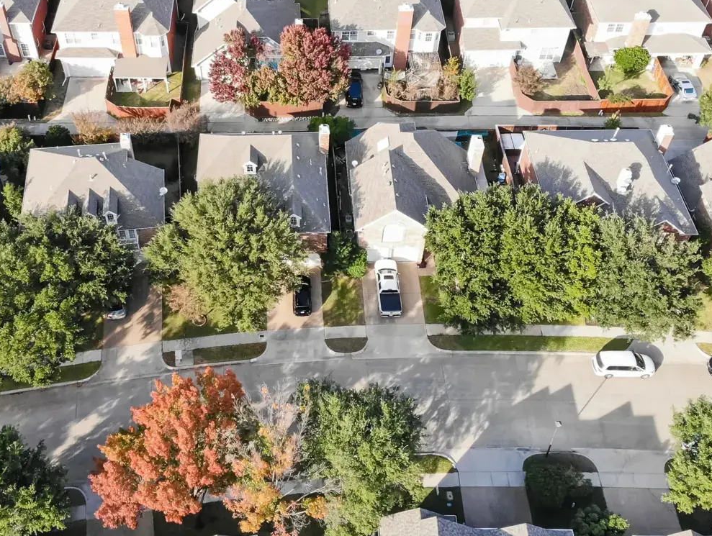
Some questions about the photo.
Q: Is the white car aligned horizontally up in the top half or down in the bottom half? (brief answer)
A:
bottom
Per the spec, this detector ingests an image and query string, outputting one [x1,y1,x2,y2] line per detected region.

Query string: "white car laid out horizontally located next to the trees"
[592,347,659,379]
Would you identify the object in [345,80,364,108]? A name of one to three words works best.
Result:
car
